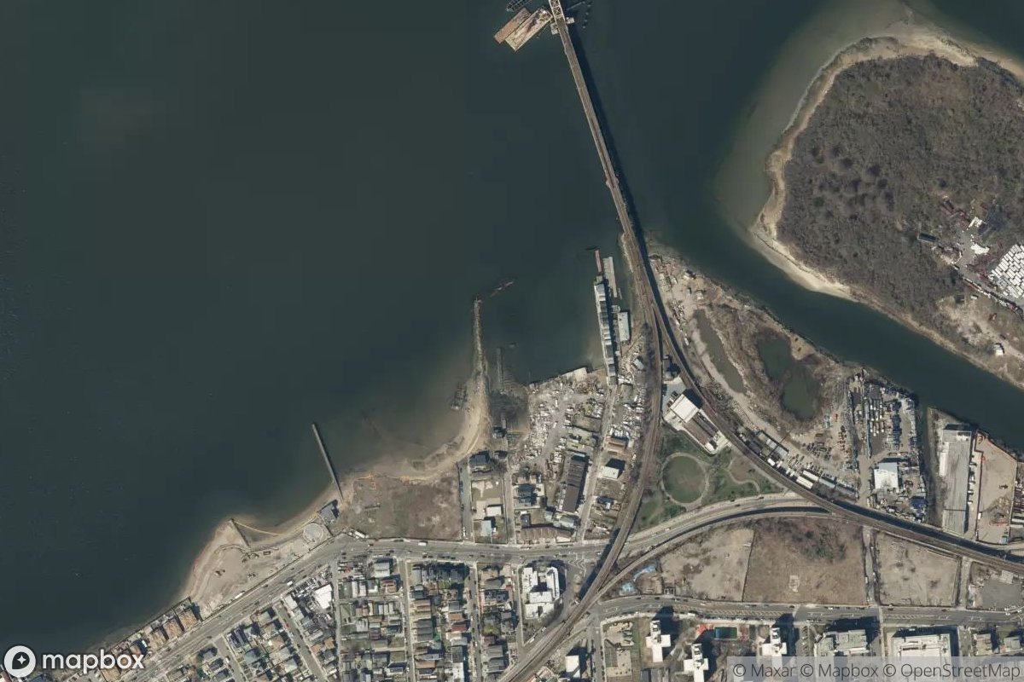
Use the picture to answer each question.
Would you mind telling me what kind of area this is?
port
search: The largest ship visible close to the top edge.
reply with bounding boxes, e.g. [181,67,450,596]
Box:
[505,8,552,51]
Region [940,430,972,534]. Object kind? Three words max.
shed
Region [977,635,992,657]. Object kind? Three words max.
house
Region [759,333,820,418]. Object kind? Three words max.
pond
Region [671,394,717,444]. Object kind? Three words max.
building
